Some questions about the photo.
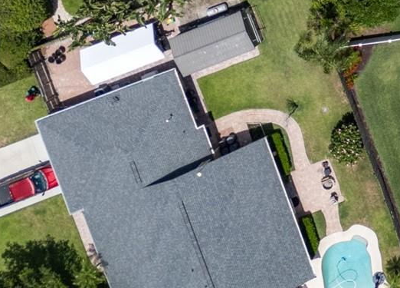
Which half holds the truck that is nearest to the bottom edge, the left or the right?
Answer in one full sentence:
The truck that is nearest to the bottom edge sits on the left side.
